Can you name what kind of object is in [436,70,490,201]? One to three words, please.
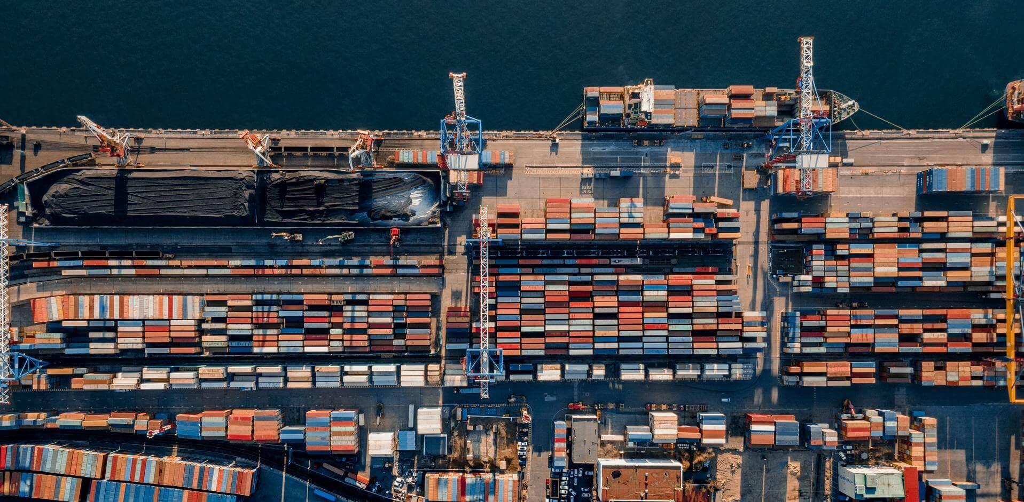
container crane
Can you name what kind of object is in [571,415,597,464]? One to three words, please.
building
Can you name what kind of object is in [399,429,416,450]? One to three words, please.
shed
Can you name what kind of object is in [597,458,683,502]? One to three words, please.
building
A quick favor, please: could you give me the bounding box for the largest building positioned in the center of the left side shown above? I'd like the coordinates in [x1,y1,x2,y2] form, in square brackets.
[13,183,38,222]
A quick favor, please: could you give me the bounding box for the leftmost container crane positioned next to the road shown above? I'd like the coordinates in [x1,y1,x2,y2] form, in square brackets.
[0,207,62,398]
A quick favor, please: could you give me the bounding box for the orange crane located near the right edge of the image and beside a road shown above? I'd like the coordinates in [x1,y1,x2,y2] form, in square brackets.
[992,196,1024,402]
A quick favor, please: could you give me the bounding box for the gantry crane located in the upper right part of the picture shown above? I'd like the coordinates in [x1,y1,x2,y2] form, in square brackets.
[759,35,836,199]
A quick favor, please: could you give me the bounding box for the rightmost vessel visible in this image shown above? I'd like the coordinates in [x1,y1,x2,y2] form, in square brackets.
[1003,80,1024,125]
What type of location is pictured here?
port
